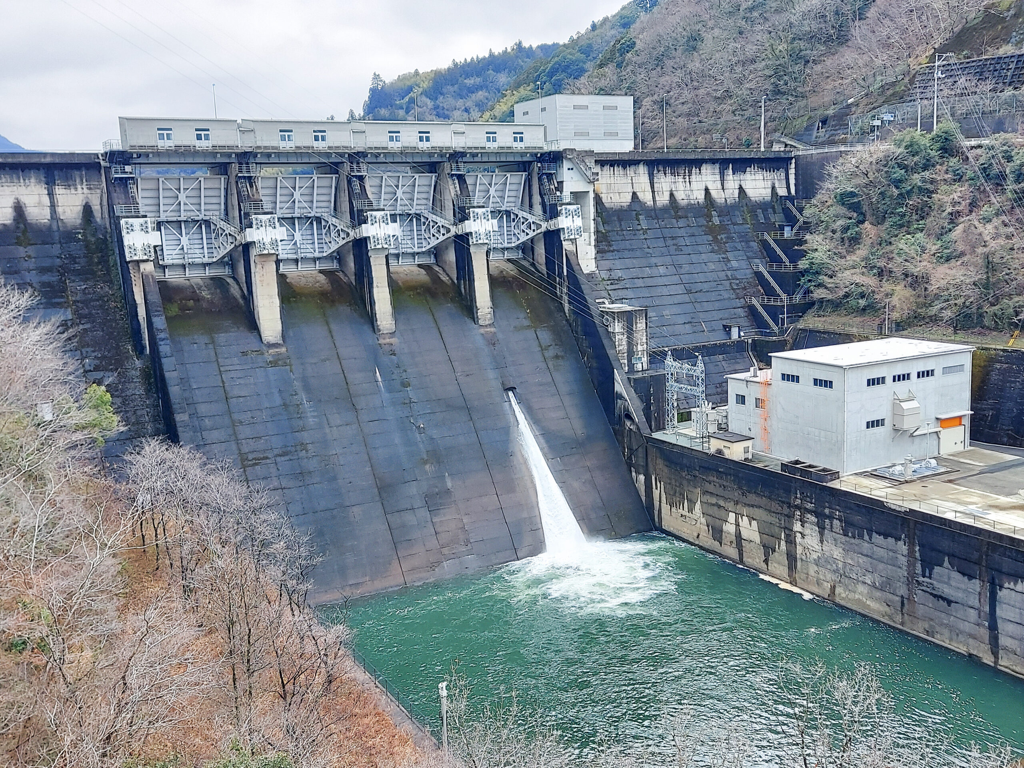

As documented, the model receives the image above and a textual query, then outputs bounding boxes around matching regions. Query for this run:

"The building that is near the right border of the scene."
[721,341,982,474]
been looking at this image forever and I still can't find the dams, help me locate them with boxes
[0,150,848,603]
